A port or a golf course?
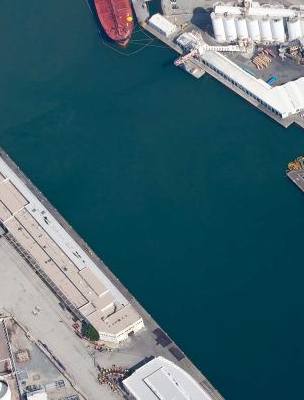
port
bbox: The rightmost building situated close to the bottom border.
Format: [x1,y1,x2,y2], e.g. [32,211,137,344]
[123,355,215,400]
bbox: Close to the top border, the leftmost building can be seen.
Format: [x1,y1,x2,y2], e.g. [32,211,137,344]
[148,13,178,38]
